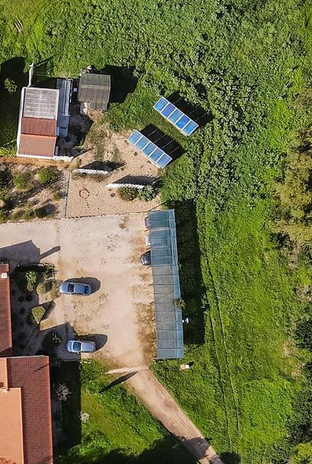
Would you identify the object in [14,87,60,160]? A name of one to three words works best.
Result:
building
